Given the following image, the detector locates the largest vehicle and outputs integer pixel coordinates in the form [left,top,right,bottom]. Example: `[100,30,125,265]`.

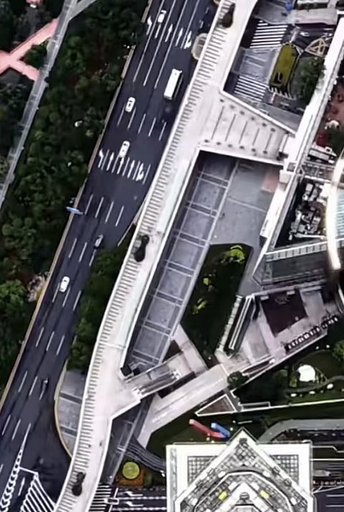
[165,70,182,107]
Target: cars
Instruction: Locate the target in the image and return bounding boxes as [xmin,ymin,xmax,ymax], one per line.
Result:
[94,233,104,250]
[156,9,166,27]
[59,276,70,293]
[120,142,129,160]
[196,15,206,33]
[125,97,135,115]
[39,376,50,392]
